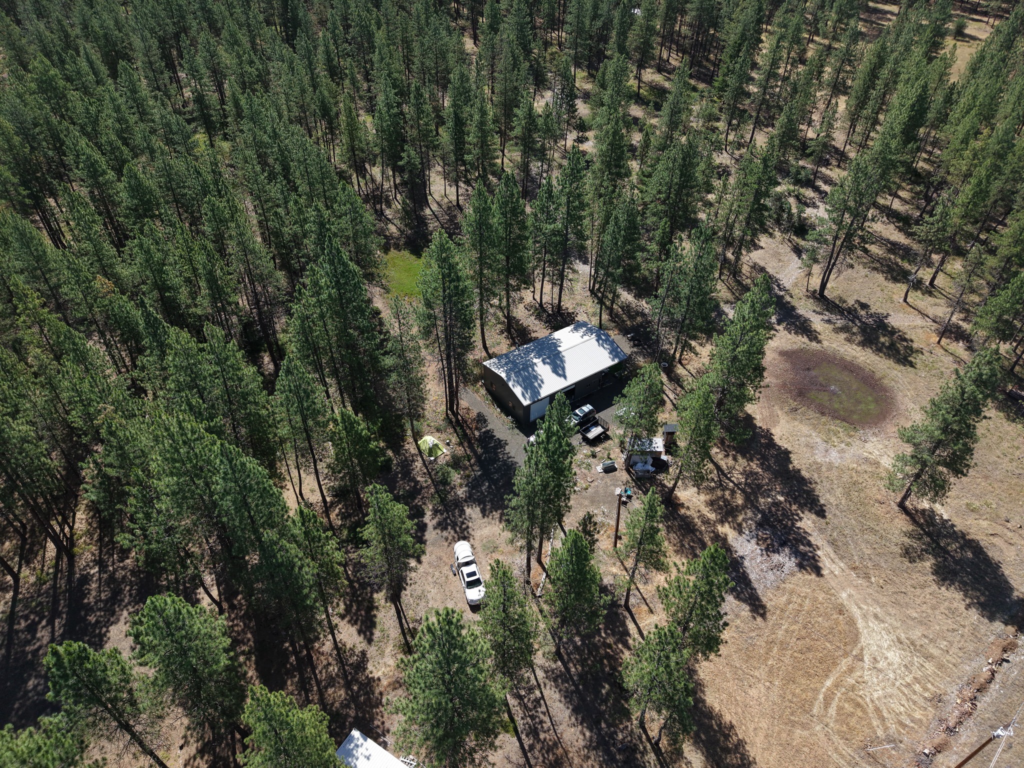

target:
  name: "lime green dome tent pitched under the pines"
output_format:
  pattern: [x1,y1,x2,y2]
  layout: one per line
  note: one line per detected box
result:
[417,437,448,459]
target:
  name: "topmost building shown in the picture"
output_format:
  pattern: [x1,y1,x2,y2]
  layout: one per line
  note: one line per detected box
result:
[484,319,628,426]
